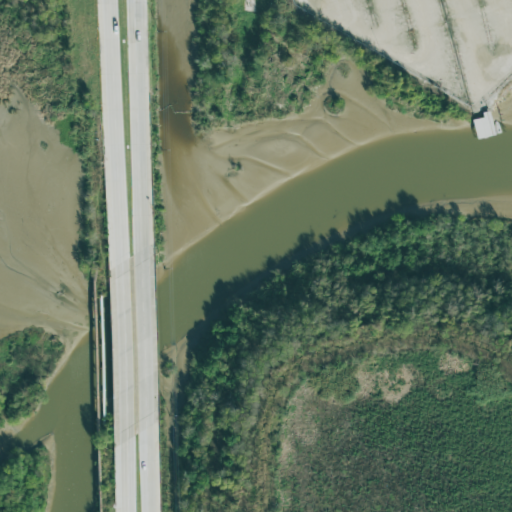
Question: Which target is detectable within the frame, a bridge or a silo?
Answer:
bridge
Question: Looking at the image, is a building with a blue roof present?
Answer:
No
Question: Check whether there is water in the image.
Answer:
Yes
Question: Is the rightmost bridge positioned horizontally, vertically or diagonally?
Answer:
vertically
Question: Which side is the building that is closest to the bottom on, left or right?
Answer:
right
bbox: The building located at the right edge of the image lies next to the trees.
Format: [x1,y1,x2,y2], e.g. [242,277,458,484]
[474,111,498,140]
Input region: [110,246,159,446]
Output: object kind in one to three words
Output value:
bridge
